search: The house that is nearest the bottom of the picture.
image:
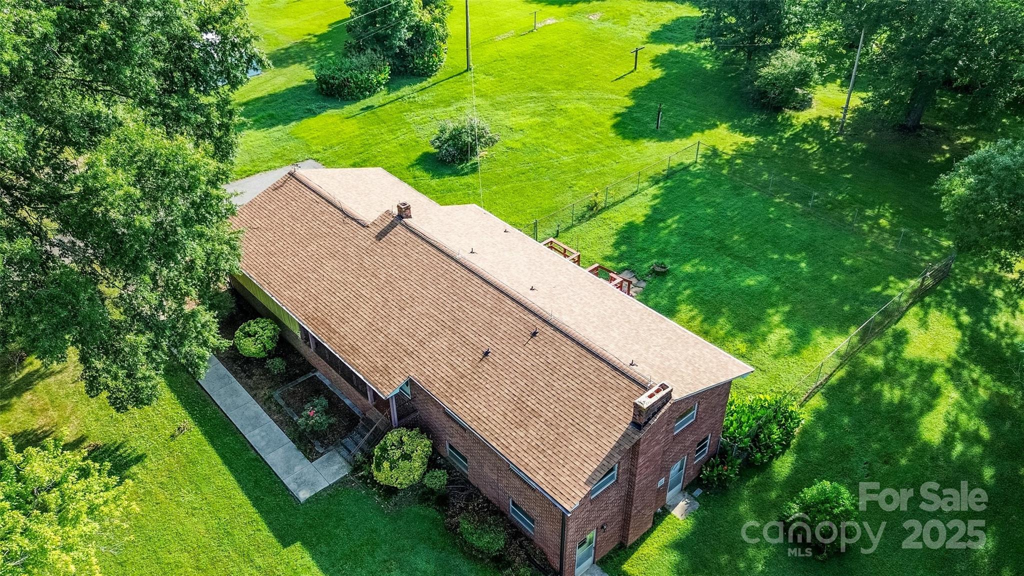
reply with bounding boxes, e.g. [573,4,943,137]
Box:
[204,167,754,576]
